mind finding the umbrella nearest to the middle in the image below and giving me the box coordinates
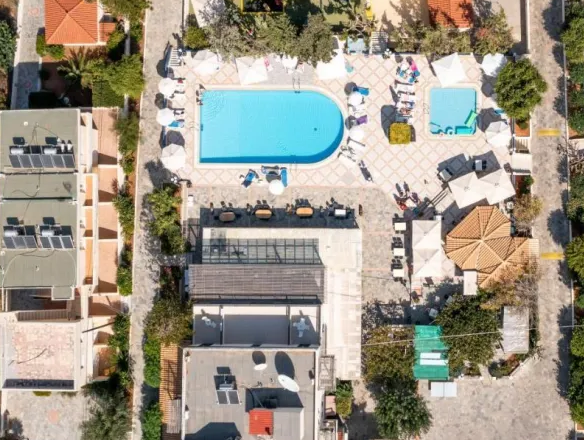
[270,179,286,195]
